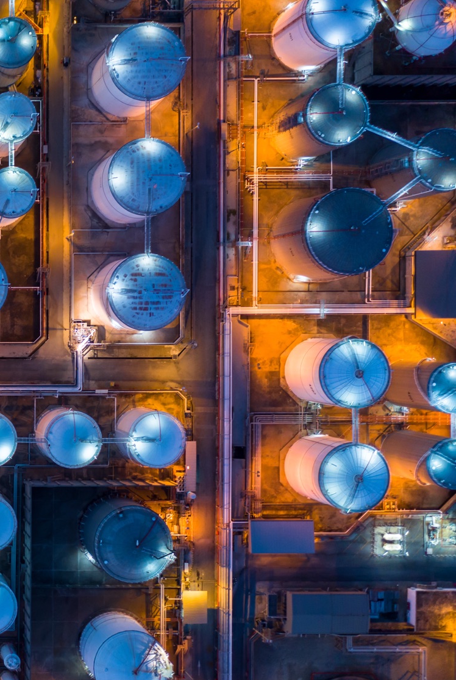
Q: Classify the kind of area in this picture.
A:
industrial area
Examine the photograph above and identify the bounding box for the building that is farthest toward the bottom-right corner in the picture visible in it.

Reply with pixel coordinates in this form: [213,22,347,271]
[401,585,456,631]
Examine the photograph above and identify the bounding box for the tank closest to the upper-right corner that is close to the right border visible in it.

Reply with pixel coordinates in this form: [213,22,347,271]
[374,0,456,68]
